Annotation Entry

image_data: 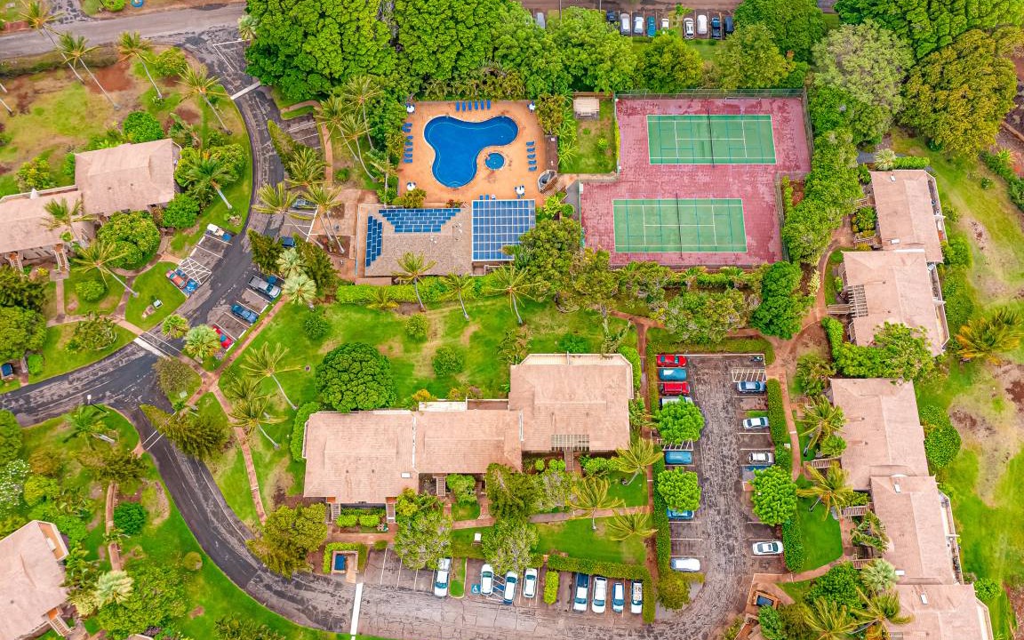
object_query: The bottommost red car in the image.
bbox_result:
[661,383,689,395]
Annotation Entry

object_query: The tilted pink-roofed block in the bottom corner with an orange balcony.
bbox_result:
[0,520,82,640]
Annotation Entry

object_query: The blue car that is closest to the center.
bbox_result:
[659,367,687,381]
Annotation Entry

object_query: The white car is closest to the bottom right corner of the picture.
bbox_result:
[752,540,783,555]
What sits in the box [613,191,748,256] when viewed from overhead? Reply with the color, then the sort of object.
green tennis court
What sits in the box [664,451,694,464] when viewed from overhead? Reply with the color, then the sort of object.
blue vehicle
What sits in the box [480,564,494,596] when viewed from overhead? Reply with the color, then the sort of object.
white car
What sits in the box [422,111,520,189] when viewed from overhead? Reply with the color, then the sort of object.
blue swimming pool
